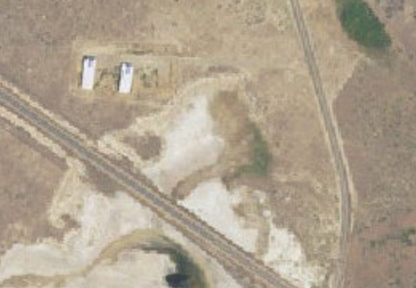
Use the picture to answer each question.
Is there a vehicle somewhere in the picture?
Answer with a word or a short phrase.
No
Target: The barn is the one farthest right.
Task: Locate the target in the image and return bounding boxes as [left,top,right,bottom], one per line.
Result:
[118,63,132,93]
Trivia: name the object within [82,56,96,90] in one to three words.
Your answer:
barn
